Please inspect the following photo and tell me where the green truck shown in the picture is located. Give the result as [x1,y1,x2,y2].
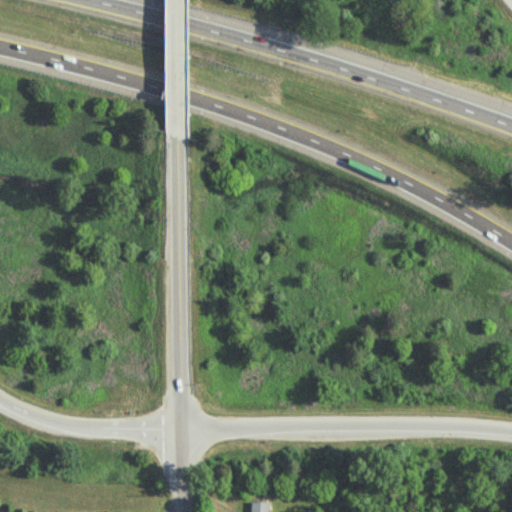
[348,158,398,186]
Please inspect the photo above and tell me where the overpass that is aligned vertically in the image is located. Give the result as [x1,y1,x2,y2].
[164,0,192,138]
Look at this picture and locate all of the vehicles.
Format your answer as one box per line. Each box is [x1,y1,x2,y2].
[252,36,266,43]
[10,43,24,50]
[486,231,500,242]
[351,75,363,82]
[52,63,65,70]
[348,158,398,186]
[178,378,183,392]
[62,56,78,64]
